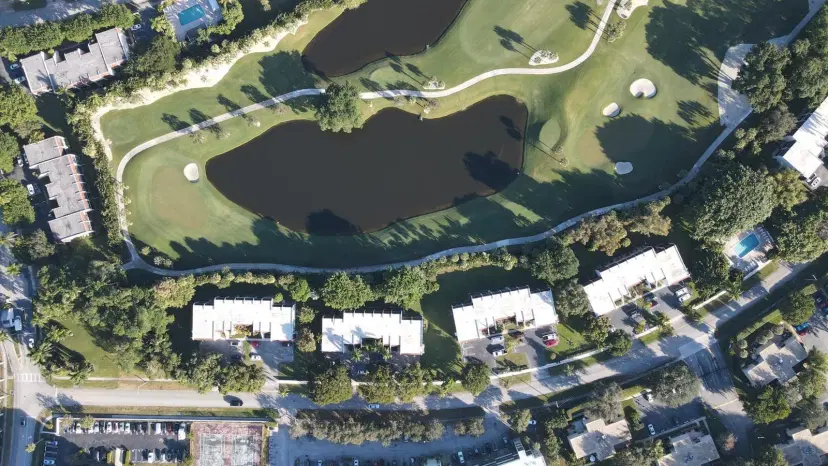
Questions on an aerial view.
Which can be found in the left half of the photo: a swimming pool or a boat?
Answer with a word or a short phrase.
swimming pool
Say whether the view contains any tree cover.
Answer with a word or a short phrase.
Yes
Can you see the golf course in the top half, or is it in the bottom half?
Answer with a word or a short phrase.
top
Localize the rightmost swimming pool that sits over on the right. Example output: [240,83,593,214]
[726,227,777,279]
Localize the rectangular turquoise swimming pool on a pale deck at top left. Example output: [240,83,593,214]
[163,0,222,41]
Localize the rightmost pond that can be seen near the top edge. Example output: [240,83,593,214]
[302,0,469,76]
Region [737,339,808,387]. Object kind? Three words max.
house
